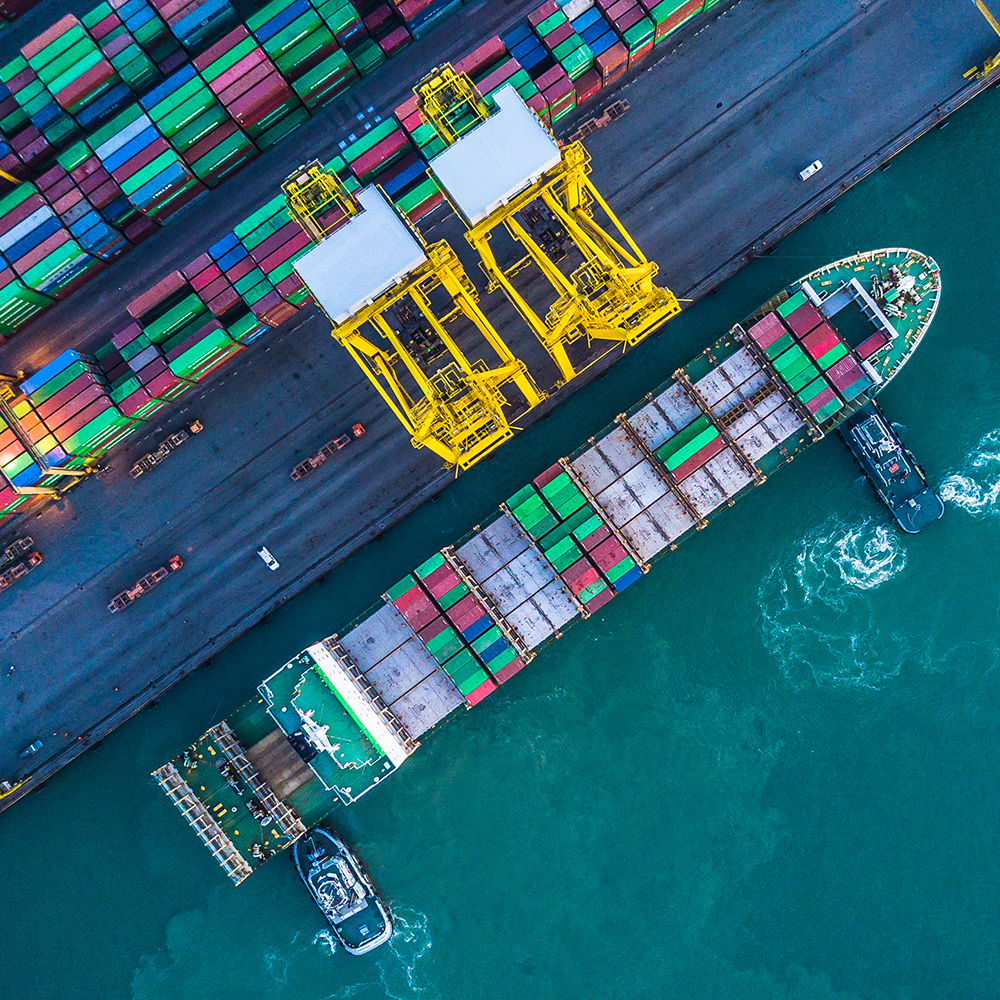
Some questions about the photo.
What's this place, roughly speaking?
port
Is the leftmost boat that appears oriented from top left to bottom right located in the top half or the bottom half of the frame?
bottom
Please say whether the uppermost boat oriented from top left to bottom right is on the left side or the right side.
right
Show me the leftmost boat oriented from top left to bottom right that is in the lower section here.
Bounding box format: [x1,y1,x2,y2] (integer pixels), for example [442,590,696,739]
[292,825,397,959]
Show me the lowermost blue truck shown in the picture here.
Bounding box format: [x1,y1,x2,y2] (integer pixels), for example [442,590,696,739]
[18,736,45,760]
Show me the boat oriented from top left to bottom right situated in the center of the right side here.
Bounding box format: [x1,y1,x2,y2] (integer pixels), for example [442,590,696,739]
[836,396,952,539]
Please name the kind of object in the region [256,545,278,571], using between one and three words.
truck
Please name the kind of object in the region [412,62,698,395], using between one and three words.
container crane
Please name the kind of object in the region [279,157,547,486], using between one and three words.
container crane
